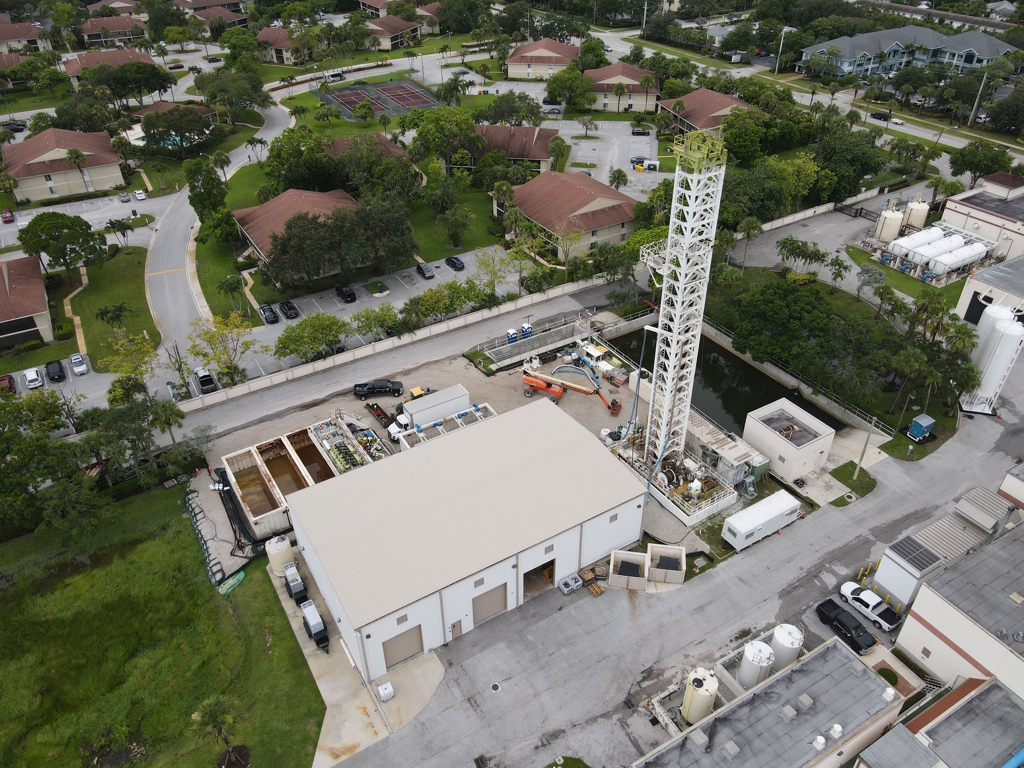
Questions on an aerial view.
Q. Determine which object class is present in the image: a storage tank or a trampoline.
storage tank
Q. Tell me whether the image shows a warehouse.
Yes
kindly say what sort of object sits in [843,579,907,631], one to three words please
truck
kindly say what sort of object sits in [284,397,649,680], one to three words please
warehouse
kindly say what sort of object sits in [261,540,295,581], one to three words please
storage tank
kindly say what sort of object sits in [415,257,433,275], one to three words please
car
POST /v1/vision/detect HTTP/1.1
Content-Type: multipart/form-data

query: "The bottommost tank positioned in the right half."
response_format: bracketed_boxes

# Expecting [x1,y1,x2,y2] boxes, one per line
[675,677,719,726]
